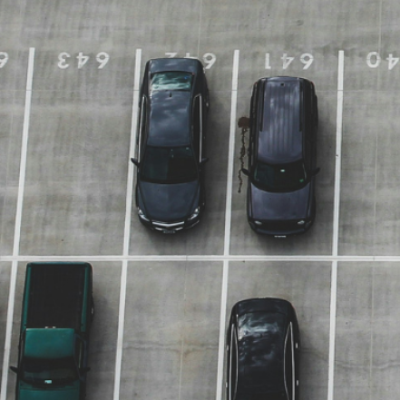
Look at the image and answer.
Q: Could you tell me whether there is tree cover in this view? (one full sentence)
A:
No, the scene doesn't show any tree cover.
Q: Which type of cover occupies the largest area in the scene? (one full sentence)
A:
Most of the picture is covered by paved ground.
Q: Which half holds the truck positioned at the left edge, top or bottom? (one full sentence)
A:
Seen from above, the truck positioned at the left edge lies in the bottom half of the view.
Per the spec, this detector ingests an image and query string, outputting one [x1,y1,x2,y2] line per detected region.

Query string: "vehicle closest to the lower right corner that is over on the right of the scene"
[223,297,301,400]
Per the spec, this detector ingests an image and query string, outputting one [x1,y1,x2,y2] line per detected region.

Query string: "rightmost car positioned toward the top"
[237,76,325,238]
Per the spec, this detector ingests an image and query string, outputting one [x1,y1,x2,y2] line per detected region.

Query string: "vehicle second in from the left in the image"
[125,57,214,236]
